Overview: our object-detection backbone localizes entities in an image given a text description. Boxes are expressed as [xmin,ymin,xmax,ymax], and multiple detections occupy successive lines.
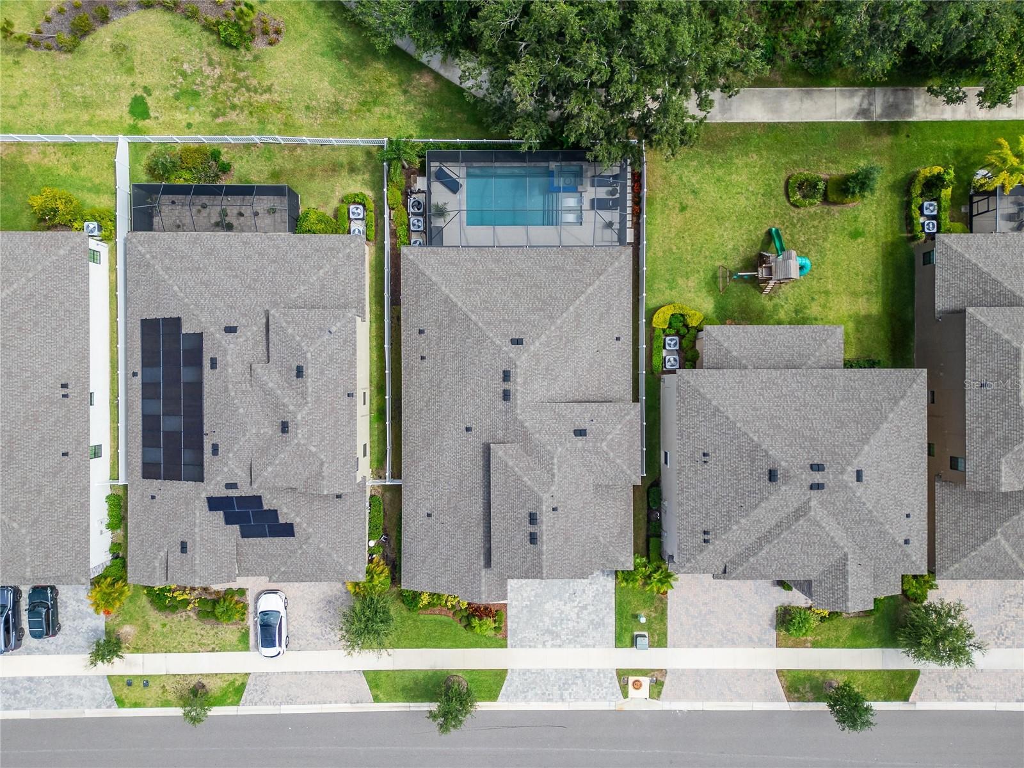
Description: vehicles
[22,584,61,640]
[254,588,289,658]
[0,584,27,653]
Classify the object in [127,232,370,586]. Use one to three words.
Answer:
house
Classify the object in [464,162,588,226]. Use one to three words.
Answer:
swimming pool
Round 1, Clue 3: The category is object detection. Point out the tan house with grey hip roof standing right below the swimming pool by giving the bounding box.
[400,245,643,601]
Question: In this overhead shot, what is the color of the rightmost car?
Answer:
white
